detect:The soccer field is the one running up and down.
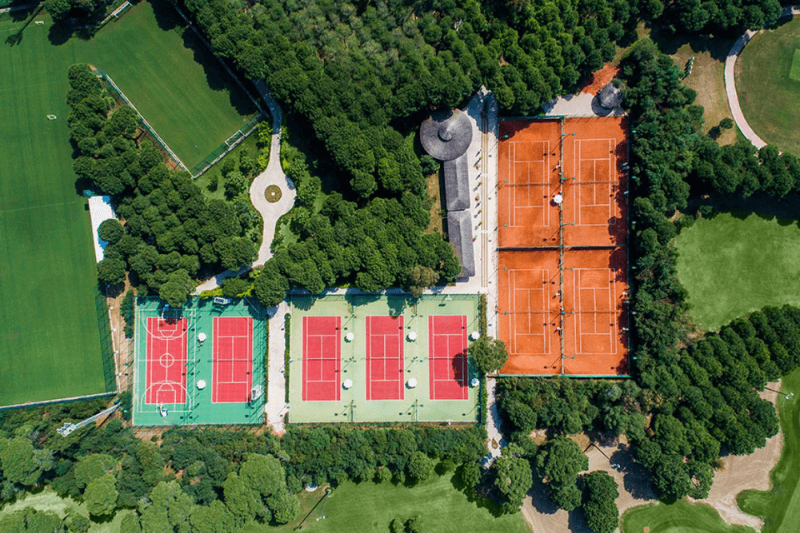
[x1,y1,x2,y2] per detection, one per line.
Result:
[0,7,118,407]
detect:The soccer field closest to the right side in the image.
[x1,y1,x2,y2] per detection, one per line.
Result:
[84,0,257,171]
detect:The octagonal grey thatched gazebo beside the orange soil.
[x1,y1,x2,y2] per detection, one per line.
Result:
[595,87,619,109]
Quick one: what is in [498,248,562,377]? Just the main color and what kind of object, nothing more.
orange tennis court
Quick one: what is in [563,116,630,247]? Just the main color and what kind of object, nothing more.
orange tennis court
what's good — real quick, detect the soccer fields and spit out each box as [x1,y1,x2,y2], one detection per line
[0,7,118,407]
[84,0,257,171]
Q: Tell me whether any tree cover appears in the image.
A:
Yes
